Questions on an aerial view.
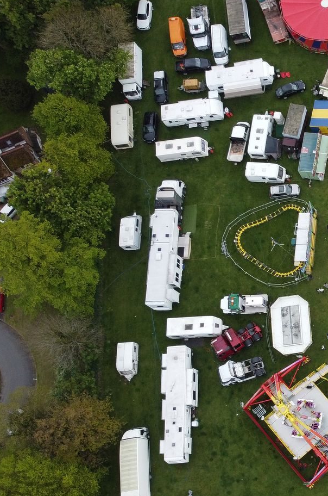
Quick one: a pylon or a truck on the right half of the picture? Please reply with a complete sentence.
There is a truck on the right half of the picture.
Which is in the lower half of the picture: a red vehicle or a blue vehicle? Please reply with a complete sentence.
What appears in the lower half of the picture is a red vehicle.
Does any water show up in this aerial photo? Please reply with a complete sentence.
No, the picture contains no water.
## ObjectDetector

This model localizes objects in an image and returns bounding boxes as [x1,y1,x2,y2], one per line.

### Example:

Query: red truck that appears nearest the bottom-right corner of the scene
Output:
[214,324,264,359]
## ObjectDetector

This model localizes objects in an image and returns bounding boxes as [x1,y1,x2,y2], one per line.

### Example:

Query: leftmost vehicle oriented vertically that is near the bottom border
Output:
[121,424,152,496]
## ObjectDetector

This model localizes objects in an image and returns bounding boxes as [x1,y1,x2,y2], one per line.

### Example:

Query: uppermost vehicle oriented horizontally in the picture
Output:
[175,58,212,74]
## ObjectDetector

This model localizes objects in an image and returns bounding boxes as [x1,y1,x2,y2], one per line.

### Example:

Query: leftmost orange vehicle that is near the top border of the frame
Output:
[168,17,189,58]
